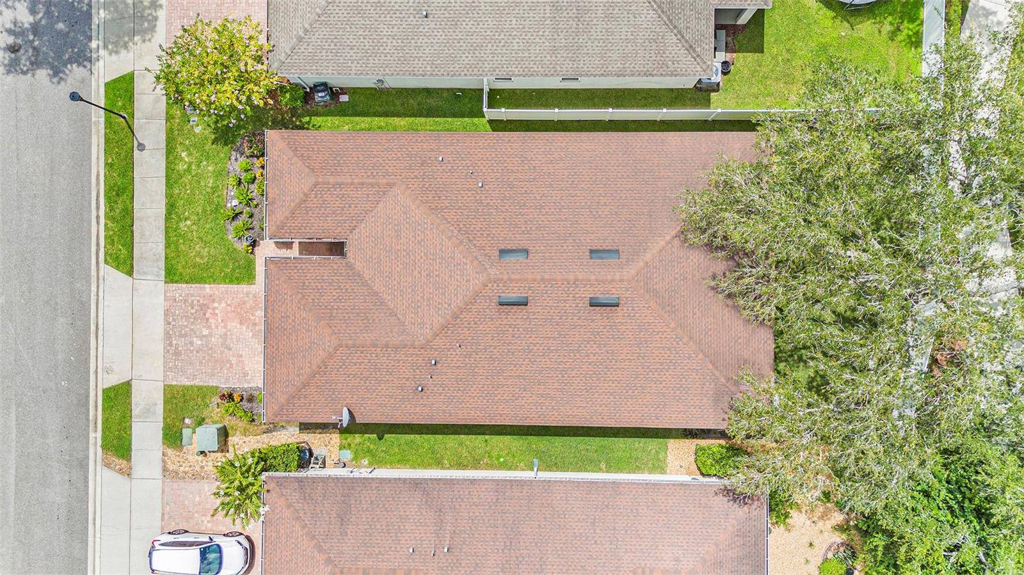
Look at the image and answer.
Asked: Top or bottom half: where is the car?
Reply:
bottom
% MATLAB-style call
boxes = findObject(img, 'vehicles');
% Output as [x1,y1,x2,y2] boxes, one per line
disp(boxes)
[149,528,254,575]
